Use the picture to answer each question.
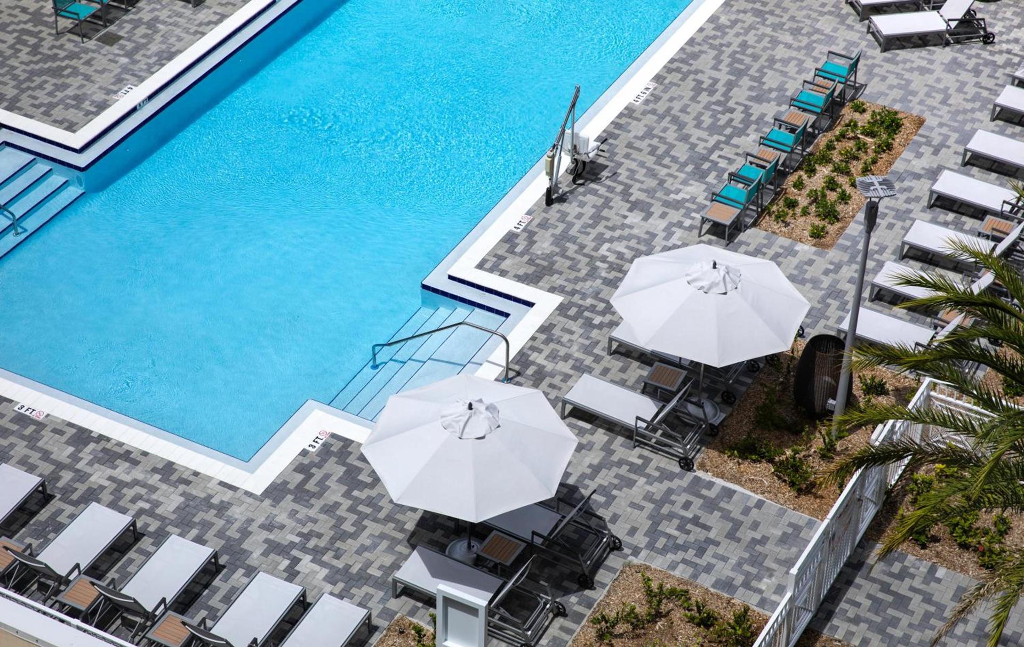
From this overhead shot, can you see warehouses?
No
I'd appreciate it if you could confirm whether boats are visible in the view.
No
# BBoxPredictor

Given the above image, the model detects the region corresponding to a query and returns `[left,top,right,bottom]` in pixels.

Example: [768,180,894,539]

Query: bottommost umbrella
[359,375,581,565]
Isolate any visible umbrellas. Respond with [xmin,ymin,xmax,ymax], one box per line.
[608,244,811,416]
[359,375,581,565]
